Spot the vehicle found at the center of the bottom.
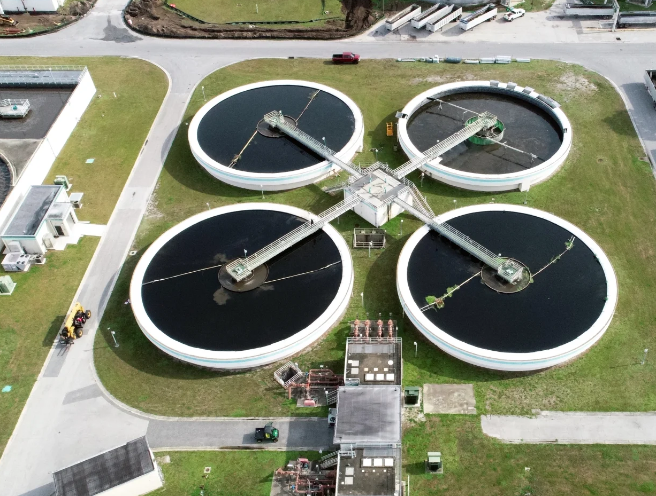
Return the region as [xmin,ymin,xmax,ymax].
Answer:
[254,424,282,442]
